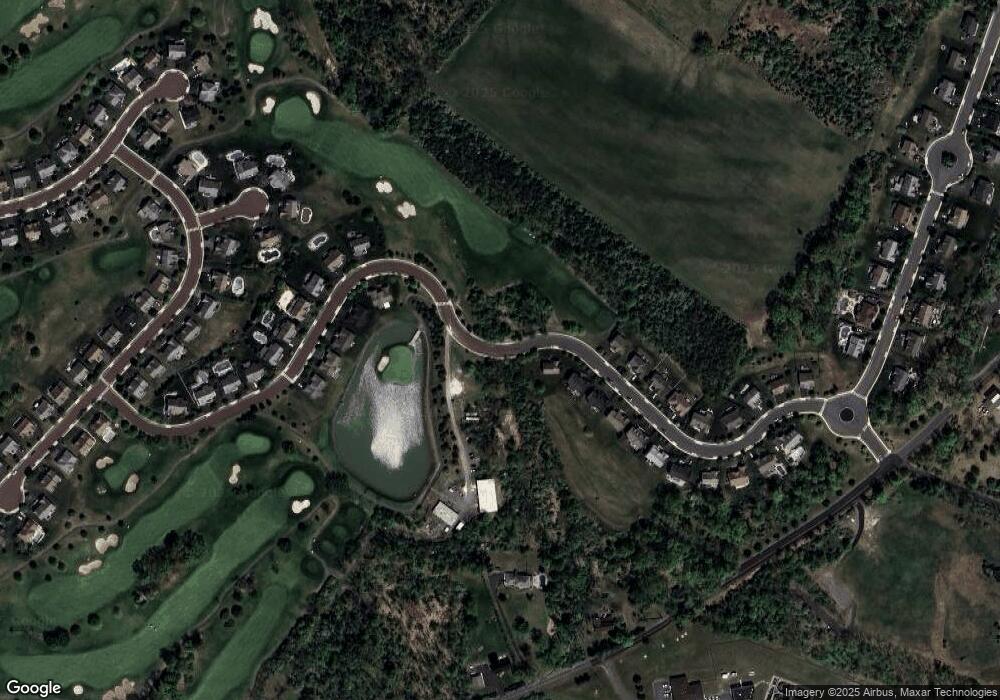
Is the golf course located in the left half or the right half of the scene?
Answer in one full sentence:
The golf course appears in the left half of the scene.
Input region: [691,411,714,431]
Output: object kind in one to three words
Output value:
house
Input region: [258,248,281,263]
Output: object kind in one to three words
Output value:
swimming pool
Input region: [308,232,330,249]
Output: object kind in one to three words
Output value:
swimming pool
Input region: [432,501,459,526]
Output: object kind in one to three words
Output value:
barn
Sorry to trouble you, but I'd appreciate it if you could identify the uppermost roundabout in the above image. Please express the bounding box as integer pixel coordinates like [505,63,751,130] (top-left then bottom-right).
[926,136,973,183]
